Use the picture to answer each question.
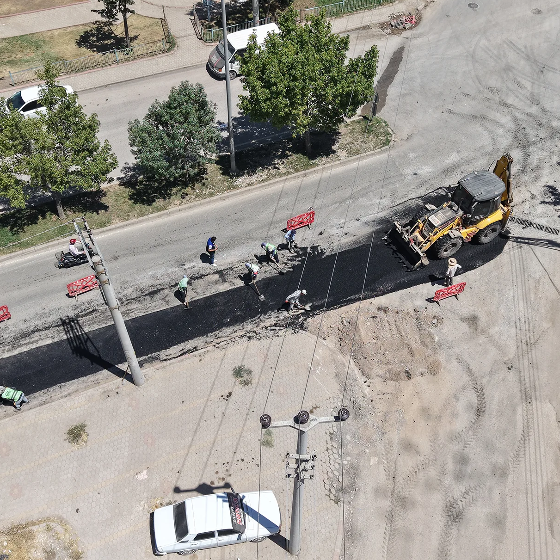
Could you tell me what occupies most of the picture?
paved ground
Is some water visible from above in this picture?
No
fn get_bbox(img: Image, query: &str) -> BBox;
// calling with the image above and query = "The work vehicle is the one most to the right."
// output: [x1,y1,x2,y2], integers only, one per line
[384,156,524,270]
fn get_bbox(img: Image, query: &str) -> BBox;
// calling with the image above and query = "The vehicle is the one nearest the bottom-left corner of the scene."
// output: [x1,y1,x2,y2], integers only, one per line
[151,479,290,555]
